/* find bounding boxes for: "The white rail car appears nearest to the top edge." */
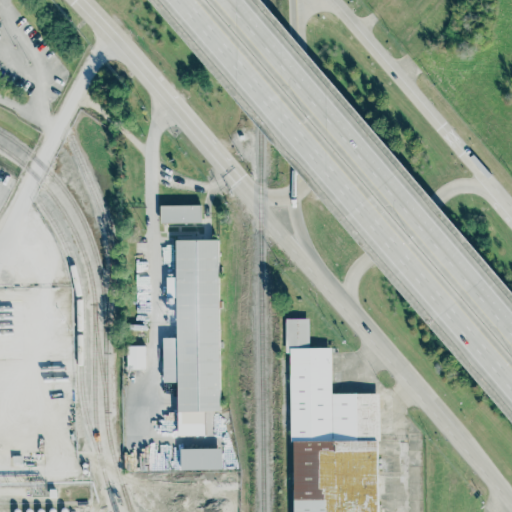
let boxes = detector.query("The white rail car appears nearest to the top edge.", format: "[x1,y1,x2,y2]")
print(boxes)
[70,264,82,298]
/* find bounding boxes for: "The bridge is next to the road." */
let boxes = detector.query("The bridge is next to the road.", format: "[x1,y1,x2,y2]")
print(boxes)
[149,0,512,422]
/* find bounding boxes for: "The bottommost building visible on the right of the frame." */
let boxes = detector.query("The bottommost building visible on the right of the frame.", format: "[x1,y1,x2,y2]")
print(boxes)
[293,442,378,512]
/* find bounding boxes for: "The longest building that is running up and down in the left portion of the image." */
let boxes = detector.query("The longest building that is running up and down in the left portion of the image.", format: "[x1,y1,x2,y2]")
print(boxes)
[163,240,221,412]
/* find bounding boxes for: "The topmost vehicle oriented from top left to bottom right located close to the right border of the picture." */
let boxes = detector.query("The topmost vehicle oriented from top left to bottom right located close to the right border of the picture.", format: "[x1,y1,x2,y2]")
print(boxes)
[464,148,493,176]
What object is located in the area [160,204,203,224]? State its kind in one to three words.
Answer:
building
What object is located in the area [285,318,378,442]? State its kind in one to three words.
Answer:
building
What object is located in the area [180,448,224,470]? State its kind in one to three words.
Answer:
shed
